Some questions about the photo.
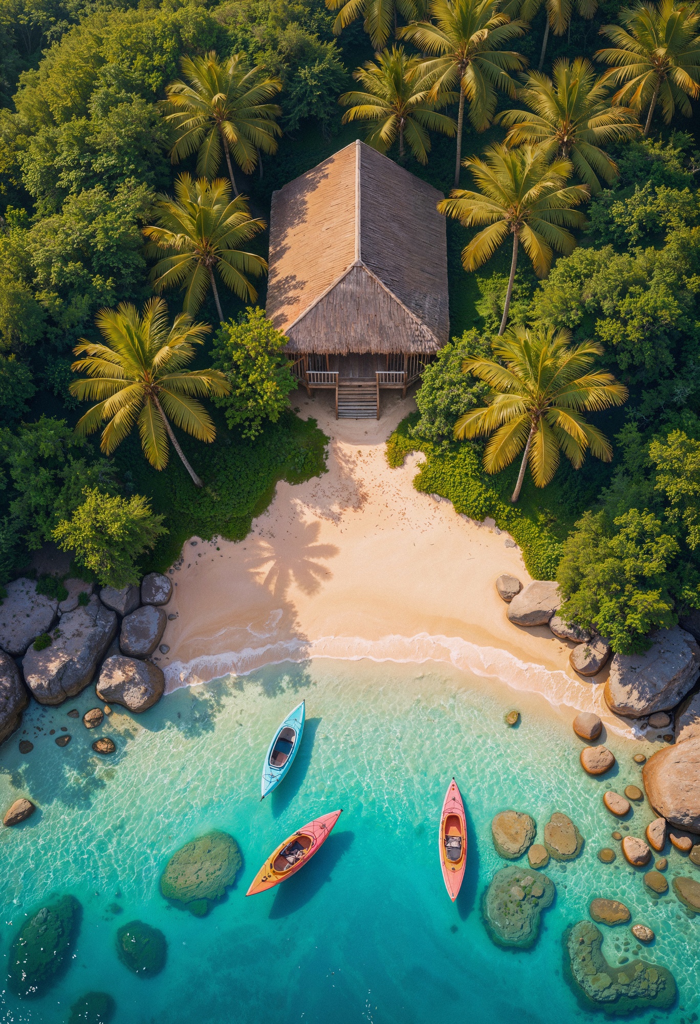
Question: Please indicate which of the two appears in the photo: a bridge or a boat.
boat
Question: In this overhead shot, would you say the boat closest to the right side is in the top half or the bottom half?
bottom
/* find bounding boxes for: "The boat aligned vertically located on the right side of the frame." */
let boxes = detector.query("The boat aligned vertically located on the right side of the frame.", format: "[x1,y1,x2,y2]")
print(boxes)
[438,777,468,904]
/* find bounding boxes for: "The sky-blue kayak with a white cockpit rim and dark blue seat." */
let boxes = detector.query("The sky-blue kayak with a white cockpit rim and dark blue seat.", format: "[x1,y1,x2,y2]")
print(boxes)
[260,699,307,801]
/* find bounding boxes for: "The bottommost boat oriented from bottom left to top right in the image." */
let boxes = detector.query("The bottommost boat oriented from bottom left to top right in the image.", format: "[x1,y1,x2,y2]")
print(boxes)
[245,809,343,897]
